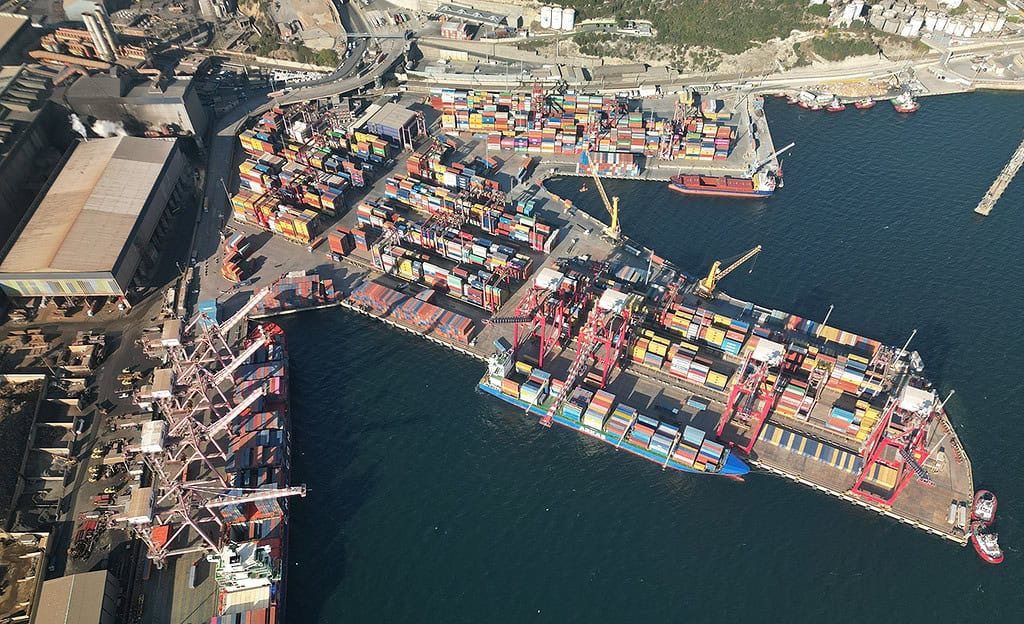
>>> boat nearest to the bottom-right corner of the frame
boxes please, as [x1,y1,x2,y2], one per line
[966,516,1012,561]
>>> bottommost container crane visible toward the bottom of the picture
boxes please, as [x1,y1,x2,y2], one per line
[115,478,307,571]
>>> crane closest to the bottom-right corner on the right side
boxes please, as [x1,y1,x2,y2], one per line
[853,380,945,505]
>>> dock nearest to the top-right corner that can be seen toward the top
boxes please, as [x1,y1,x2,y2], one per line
[974,130,1024,217]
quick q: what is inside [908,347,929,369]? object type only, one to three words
boat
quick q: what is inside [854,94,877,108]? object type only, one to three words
boat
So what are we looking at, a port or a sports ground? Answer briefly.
port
